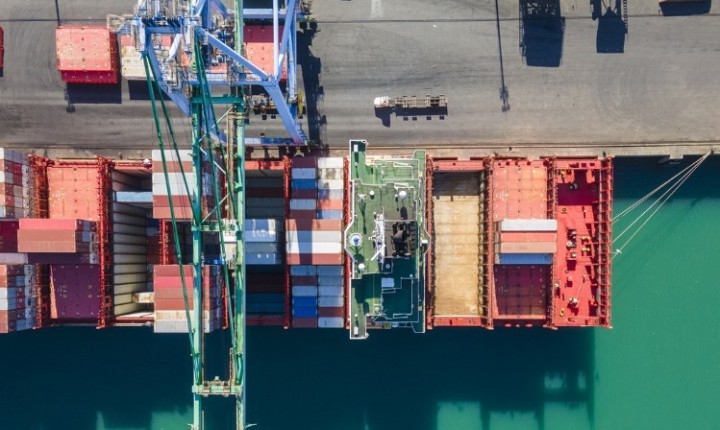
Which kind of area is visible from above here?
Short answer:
port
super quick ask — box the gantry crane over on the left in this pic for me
[101,0,331,430]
